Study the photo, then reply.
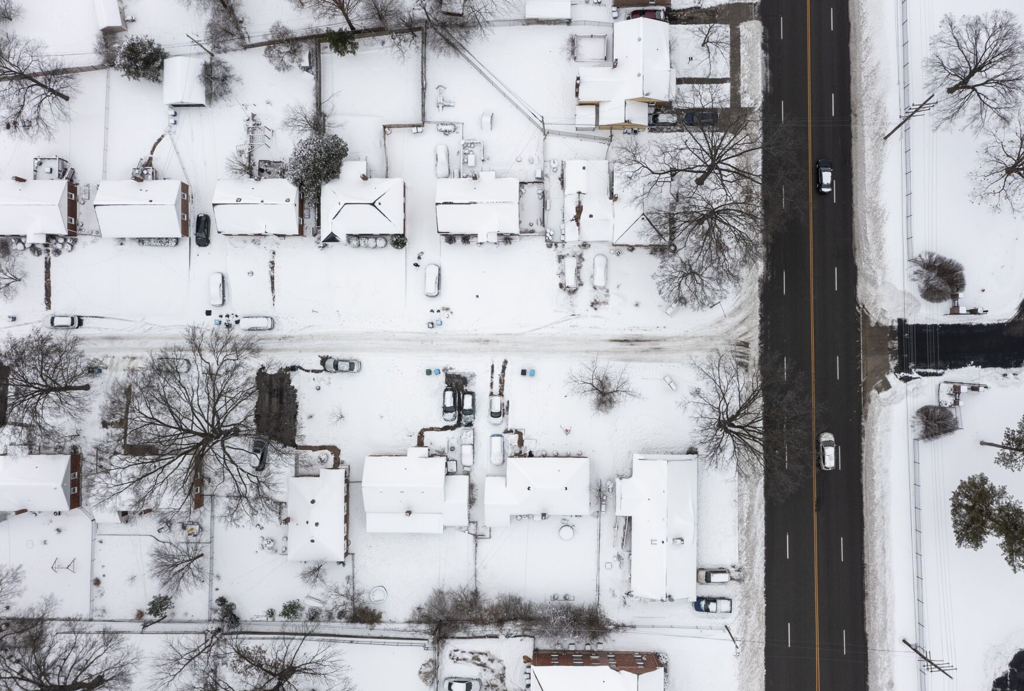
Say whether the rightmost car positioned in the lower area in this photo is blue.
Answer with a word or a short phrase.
No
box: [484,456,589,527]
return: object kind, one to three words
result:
house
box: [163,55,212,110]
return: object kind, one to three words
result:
building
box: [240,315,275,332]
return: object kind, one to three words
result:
car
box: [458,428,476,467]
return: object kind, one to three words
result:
vehicle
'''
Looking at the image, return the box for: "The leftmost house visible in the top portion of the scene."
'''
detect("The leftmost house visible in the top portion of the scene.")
[0,176,78,245]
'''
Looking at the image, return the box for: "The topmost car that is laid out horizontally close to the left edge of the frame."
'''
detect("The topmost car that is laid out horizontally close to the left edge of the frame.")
[44,314,83,330]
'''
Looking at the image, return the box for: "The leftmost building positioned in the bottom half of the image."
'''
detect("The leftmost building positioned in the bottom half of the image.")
[0,442,81,513]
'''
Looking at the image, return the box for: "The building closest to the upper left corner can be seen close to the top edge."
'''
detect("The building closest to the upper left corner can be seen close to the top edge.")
[92,0,134,36]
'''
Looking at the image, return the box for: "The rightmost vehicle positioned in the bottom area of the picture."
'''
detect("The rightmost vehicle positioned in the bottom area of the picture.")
[817,431,837,471]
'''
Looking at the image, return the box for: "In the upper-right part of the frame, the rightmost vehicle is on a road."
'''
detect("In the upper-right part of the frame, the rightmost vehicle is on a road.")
[815,159,833,194]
